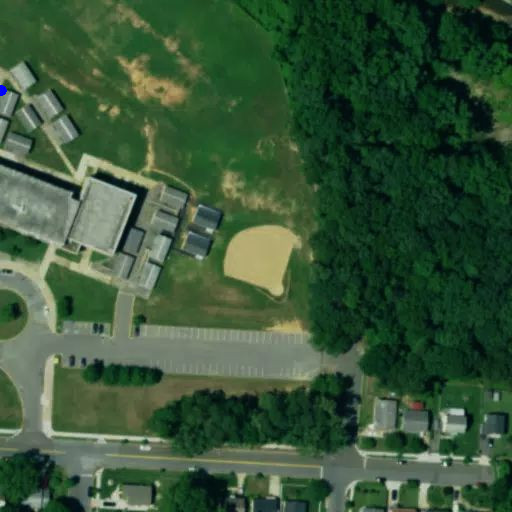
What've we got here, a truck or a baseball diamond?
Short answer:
baseball diamond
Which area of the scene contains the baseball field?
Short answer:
center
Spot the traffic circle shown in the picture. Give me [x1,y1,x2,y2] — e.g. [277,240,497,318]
[0,272,44,340]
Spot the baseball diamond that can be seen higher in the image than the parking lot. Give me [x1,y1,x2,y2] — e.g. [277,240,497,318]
[224,225,302,296]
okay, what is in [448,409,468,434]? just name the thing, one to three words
house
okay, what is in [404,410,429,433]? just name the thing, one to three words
house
